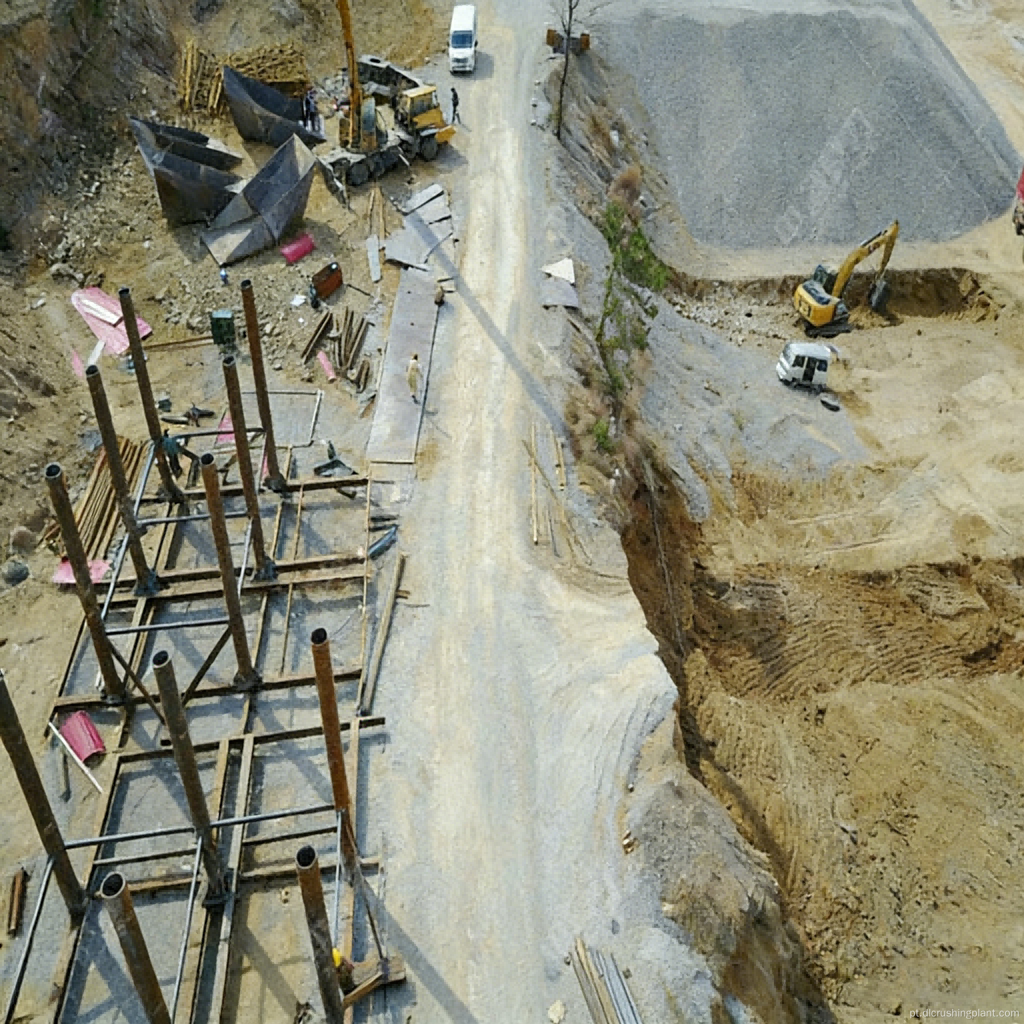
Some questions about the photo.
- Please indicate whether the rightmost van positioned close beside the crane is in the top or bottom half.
top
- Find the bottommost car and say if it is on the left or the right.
right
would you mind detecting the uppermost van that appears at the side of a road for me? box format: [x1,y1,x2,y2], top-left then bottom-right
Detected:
[446,0,478,68]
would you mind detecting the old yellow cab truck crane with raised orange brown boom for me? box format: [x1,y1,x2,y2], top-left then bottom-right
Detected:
[305,0,457,205]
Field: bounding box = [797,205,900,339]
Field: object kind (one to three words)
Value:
work vehicle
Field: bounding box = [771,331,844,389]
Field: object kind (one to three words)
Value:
car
